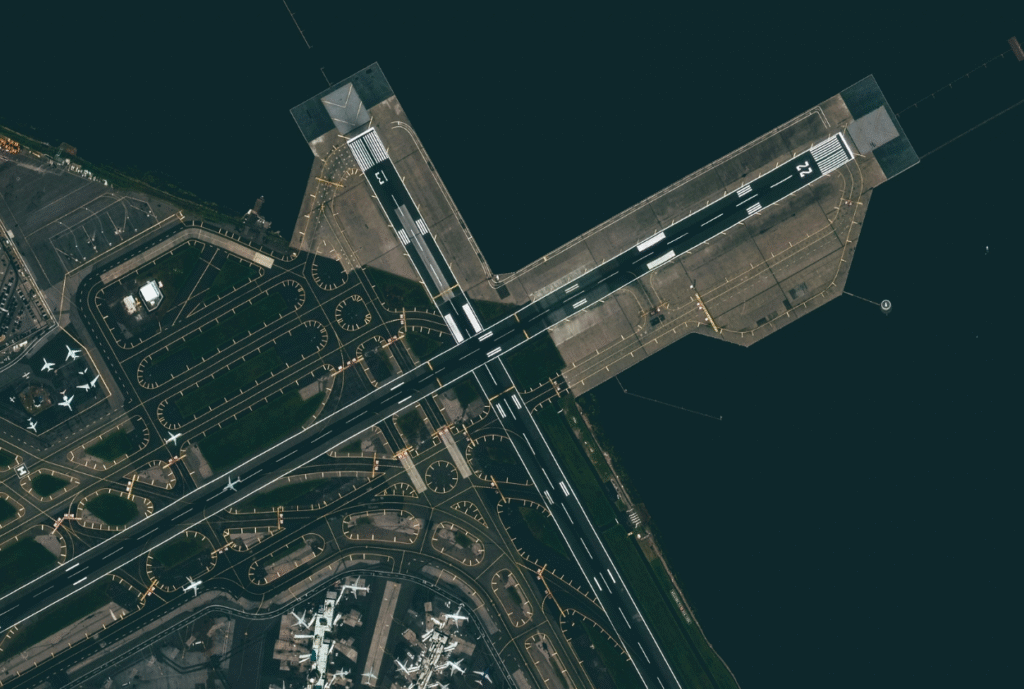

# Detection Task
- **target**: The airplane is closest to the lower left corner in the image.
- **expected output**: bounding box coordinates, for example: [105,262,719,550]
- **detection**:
[182,578,201,597]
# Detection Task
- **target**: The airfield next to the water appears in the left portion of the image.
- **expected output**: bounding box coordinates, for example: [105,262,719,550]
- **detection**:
[0,135,737,689]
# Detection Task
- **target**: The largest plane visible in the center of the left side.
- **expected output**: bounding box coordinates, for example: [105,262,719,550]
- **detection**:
[75,370,99,396]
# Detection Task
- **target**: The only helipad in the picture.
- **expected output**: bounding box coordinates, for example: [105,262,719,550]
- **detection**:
[13,463,30,479]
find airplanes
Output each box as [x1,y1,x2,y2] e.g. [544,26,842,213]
[448,660,467,678]
[223,477,242,492]
[57,390,74,412]
[163,433,181,447]
[26,417,38,432]
[438,683,454,689]
[344,577,370,601]
[65,345,81,362]
[182,578,201,597]
[334,668,351,680]
[442,607,469,629]
[288,609,307,628]
[361,666,378,685]
[472,666,492,687]
[41,358,56,374]
[394,658,410,675]
[75,370,99,396]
